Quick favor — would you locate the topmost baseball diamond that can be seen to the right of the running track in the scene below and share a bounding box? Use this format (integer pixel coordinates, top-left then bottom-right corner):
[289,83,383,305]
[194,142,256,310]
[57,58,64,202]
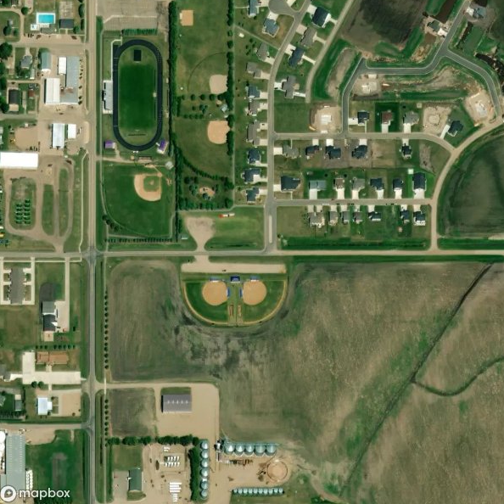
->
[187,52,227,95]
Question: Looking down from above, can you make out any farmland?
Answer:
Yes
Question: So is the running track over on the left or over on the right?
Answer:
left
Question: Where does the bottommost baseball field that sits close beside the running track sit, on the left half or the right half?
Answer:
left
